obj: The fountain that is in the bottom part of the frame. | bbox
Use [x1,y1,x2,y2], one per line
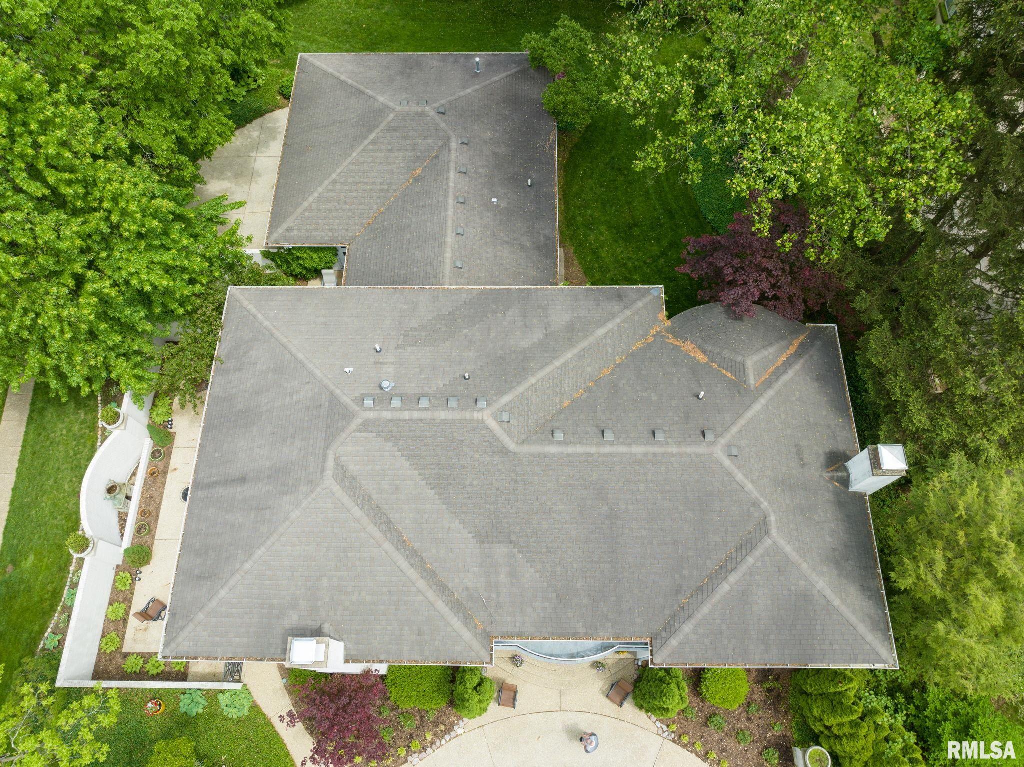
[105,480,134,511]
